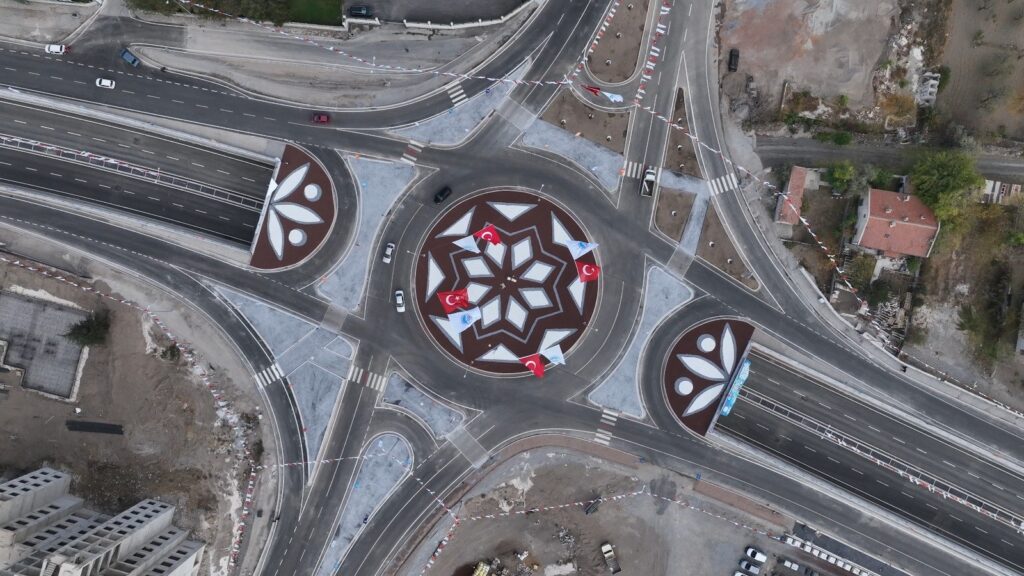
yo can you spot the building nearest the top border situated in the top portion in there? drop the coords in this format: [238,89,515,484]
[914,72,941,107]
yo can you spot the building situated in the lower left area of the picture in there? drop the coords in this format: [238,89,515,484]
[0,468,205,576]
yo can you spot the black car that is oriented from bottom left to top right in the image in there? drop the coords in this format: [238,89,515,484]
[432,185,453,204]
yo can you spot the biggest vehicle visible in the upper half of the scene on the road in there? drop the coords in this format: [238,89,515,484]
[641,167,657,197]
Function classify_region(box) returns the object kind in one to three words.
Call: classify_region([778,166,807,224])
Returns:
shed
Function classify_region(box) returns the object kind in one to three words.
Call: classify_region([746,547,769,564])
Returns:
car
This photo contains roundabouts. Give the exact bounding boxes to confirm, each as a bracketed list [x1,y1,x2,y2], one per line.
[411,186,603,378]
